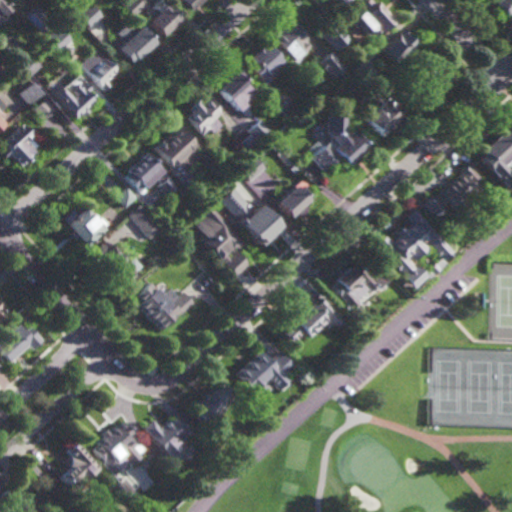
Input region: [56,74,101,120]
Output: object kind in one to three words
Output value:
house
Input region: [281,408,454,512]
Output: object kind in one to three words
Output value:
golf course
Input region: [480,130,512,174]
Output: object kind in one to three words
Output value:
house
